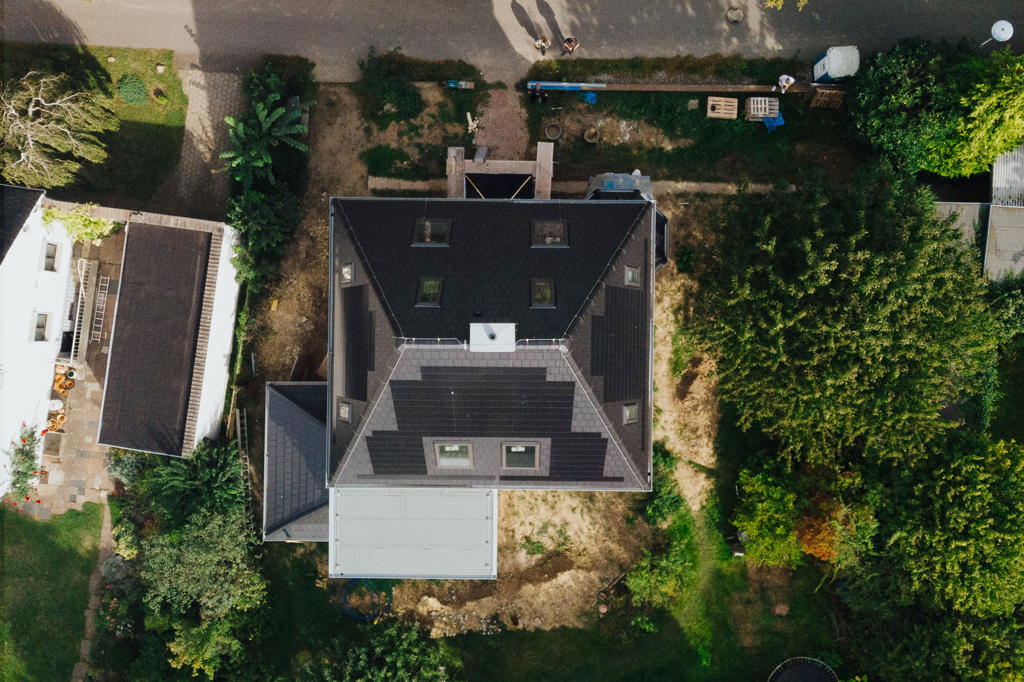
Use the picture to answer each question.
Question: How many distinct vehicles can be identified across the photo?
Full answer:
The count of vehicles is 0.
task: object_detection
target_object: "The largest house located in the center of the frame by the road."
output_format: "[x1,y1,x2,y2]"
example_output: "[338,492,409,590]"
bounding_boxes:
[322,173,668,495]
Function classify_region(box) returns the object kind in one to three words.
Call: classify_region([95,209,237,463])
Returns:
building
